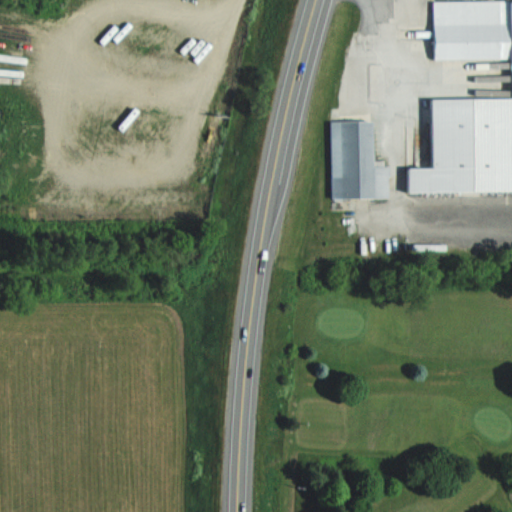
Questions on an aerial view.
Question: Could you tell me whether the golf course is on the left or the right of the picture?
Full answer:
It is on the right.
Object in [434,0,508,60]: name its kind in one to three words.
building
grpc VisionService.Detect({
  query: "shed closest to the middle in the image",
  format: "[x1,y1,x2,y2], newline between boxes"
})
[331,122,388,198]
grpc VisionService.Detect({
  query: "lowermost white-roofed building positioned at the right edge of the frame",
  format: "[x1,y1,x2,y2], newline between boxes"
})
[408,96,512,194]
